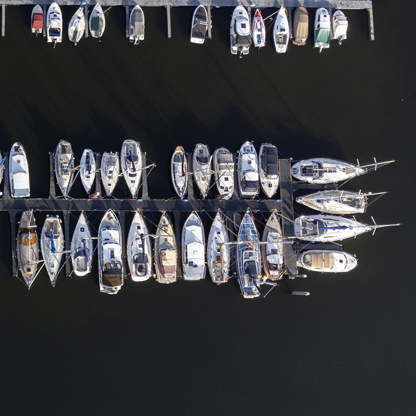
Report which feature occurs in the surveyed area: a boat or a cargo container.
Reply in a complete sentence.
There is a boat in the scene.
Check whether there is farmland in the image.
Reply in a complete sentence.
No, the scene doesn't show any farmland.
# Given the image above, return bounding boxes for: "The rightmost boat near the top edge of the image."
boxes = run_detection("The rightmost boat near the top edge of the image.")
[330,9,349,42]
